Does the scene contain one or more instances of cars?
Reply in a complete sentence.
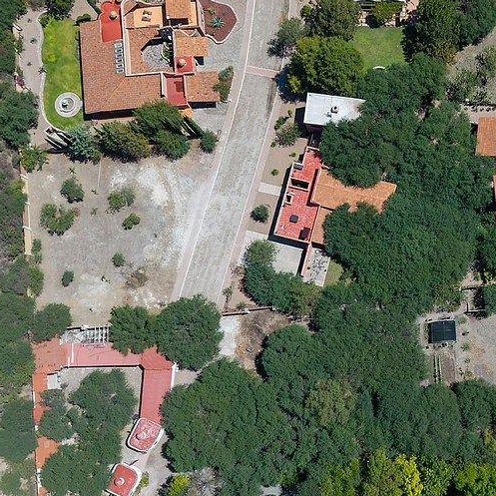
No, I can see no car in this picture.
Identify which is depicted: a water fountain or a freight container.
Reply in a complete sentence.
The image shows a water fountain.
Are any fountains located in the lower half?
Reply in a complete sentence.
No, I see no fountain in the lower half.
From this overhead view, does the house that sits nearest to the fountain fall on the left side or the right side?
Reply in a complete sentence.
The house that sits nearest to the fountain appears in the left half of the scene.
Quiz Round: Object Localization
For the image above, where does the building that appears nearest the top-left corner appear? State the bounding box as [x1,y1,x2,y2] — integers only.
[80,0,221,117]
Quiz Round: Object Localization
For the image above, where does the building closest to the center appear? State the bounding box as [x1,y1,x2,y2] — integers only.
[275,146,398,287]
